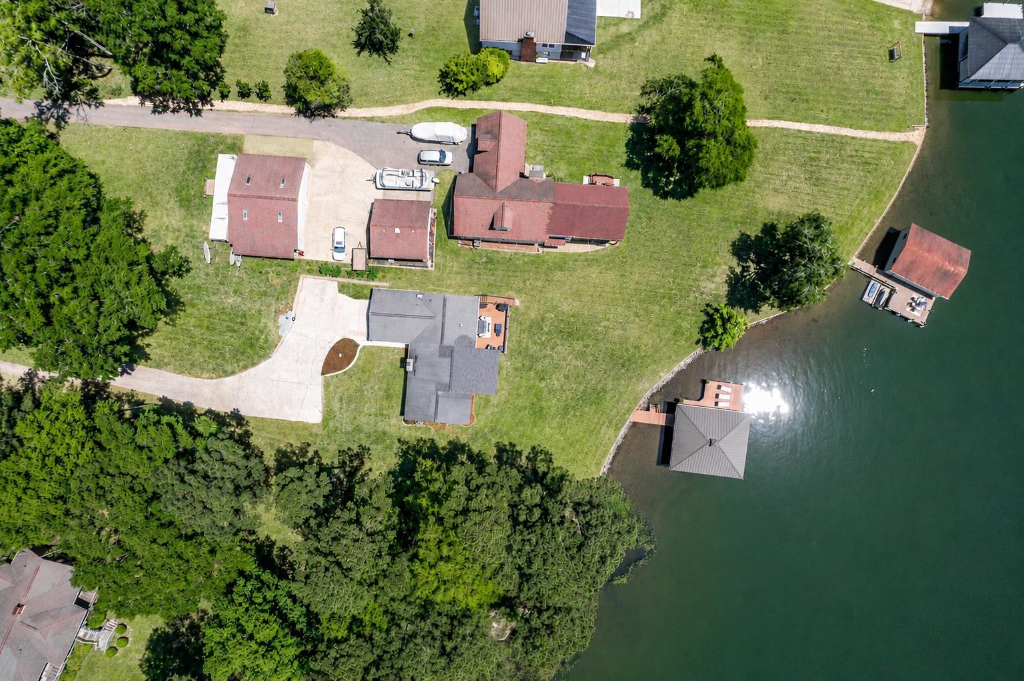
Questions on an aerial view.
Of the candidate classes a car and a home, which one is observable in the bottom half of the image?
home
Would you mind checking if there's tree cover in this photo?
Yes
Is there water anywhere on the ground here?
Yes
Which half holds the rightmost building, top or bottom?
top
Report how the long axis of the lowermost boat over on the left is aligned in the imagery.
from side to side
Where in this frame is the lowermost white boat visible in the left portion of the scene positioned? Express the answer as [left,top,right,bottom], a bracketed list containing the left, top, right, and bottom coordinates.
[374,166,436,186]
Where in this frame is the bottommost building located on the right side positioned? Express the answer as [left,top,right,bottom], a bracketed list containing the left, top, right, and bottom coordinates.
[670,403,754,480]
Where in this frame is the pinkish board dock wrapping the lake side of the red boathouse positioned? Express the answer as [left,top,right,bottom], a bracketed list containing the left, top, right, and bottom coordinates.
[849,261,937,328]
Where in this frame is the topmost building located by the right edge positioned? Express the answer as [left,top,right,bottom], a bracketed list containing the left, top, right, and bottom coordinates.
[953,16,1024,90]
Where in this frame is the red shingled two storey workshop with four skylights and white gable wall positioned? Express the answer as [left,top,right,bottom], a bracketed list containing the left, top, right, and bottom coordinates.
[207,152,310,260]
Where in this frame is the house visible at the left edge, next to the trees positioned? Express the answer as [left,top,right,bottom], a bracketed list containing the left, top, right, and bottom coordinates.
[0,548,99,681]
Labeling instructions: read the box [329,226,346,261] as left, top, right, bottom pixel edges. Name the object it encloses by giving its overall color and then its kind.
white car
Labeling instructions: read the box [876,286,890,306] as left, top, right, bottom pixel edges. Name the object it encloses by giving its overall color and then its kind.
white boat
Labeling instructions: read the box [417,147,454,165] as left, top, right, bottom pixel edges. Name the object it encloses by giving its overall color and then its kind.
white car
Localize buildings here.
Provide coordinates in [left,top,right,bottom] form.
[453,114,628,248]
[878,222,971,299]
[207,152,310,260]
[0,548,99,681]
[370,198,431,266]
[479,0,598,67]
[369,288,498,424]
[953,16,1024,90]
[670,403,754,480]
